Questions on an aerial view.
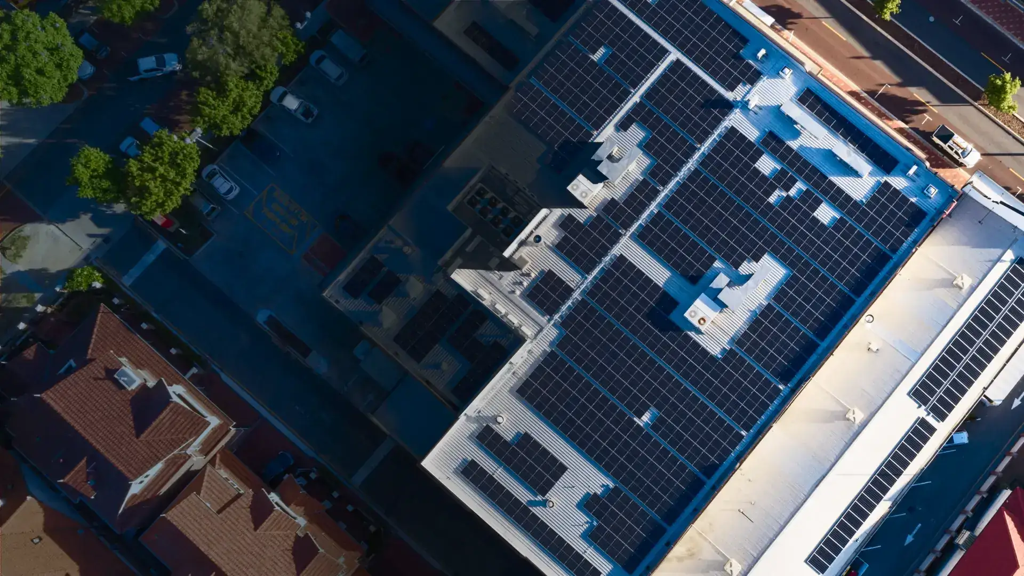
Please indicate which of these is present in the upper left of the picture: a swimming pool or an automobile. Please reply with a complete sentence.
The feature located in the upper left of the picture is an automobile.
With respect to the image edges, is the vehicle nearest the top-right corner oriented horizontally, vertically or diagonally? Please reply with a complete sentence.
The vehicle nearest the top-right corner is laid out diagonally.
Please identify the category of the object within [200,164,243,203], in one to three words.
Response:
car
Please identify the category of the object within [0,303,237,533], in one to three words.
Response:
house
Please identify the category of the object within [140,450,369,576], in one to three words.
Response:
house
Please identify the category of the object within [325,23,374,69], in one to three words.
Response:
vehicle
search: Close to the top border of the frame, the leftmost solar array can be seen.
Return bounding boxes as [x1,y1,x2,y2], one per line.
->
[466,18,522,68]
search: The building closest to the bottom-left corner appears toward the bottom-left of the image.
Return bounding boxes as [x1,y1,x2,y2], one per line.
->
[0,460,148,576]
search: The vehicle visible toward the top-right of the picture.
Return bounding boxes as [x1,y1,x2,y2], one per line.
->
[931,122,983,166]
